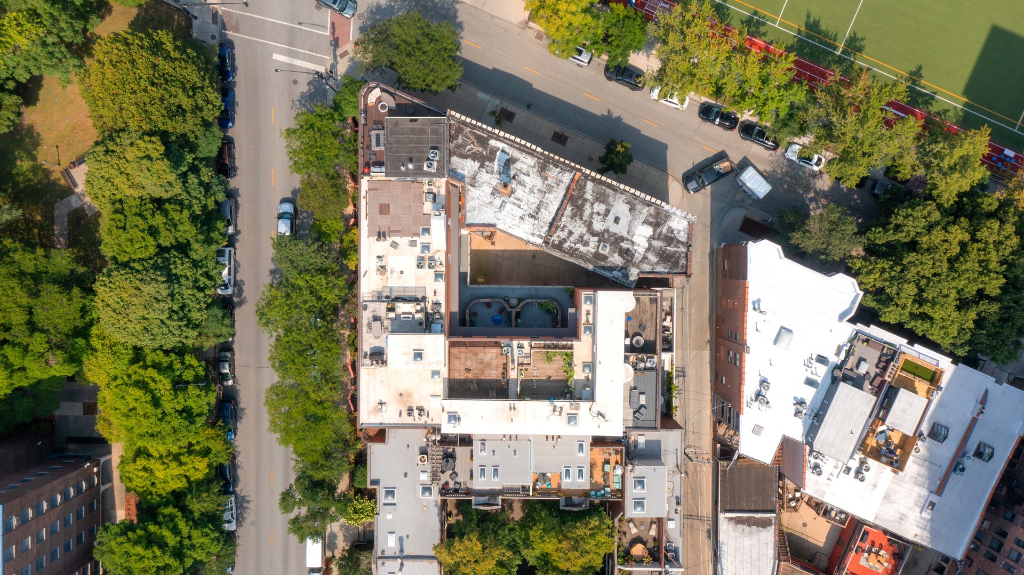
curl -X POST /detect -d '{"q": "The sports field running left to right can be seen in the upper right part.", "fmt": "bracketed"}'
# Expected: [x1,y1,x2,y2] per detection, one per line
[673,0,1024,157]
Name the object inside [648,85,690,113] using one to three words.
car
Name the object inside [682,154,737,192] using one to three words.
truck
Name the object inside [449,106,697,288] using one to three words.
building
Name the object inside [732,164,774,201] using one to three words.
trailer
